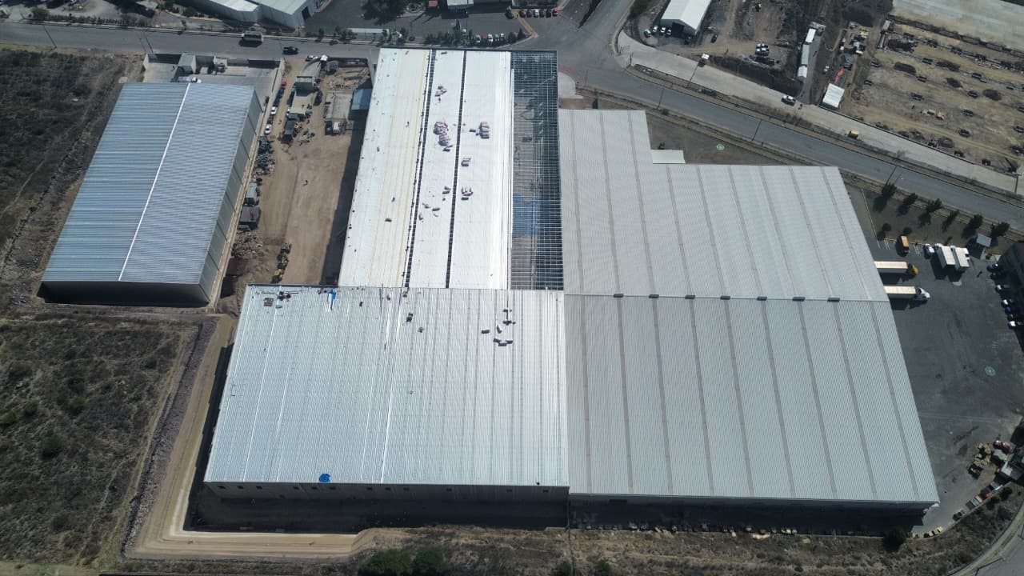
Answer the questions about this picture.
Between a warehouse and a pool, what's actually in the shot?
warehouse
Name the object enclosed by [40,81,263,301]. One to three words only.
warehouse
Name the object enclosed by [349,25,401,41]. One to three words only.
vehicle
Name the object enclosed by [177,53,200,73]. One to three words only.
building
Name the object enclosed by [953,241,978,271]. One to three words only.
truck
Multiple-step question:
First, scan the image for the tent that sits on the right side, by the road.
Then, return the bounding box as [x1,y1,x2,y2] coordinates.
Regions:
[820,80,845,115]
